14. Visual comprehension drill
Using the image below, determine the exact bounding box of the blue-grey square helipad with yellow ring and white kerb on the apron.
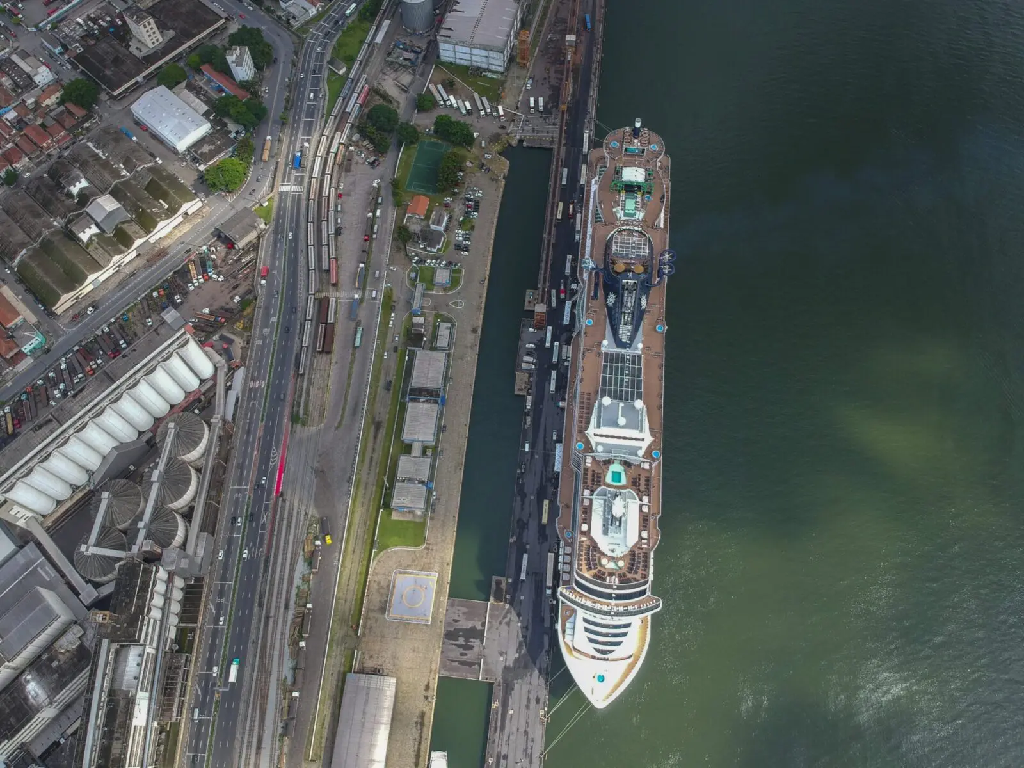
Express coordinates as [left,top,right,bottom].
[386,569,438,624]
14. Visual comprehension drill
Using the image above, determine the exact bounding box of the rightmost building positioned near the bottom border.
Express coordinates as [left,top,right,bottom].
[332,673,399,768]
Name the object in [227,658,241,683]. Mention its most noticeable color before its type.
white vehicle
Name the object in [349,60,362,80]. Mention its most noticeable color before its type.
gray rail car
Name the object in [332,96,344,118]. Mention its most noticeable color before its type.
gray rail car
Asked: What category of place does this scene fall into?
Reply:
port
